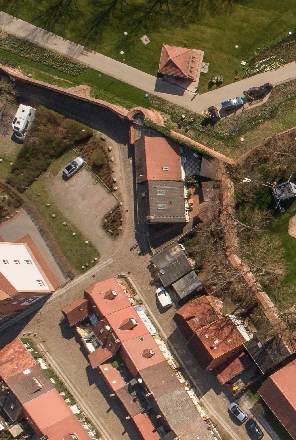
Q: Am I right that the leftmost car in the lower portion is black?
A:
No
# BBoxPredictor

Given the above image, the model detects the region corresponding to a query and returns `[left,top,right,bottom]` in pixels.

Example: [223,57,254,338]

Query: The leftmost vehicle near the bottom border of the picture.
[225,400,251,426]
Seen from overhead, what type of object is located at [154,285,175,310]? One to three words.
car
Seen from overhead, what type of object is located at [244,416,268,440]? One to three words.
car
